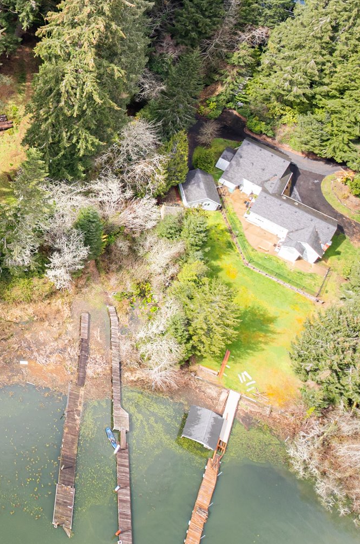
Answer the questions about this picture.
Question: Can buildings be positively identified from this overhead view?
Yes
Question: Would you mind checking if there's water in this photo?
Yes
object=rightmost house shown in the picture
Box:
[212,136,338,263]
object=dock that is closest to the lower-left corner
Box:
[52,484,75,538]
